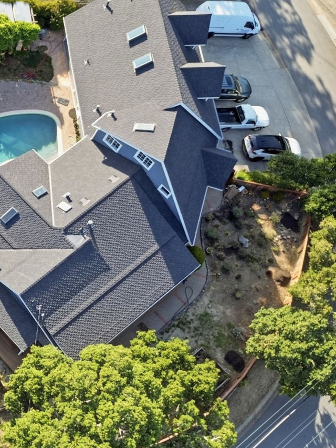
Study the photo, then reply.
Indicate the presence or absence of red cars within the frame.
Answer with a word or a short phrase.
No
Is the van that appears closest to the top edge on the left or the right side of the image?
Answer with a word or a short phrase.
right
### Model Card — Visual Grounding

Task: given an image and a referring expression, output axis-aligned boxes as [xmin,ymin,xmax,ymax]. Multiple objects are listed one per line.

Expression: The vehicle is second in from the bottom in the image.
[215,107,276,136]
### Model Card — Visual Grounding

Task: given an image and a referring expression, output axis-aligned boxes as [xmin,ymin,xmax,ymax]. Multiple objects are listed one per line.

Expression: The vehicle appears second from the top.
[213,78,259,106]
